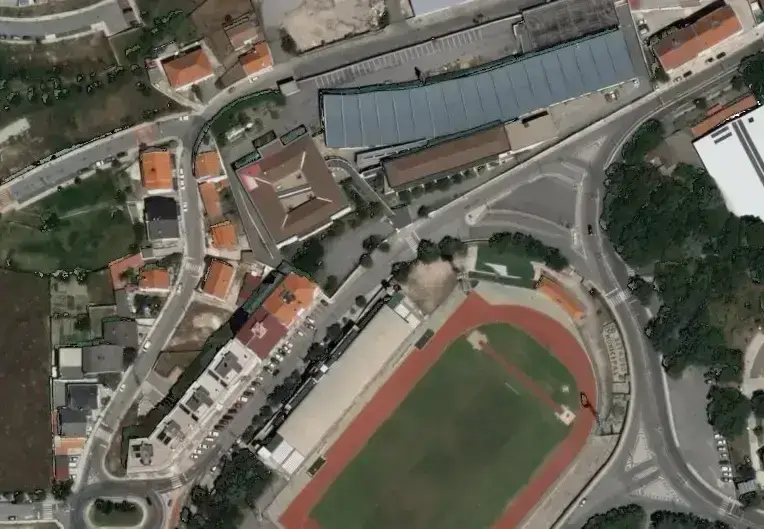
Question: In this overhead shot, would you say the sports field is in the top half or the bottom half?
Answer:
bottom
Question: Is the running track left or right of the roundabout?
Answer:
to its right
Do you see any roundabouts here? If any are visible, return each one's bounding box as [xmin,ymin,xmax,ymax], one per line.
[87,497,146,529]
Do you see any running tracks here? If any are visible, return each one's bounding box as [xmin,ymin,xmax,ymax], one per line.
[270,292,598,529]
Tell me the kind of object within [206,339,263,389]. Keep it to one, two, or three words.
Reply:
building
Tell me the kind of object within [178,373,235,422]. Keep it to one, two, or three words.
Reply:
building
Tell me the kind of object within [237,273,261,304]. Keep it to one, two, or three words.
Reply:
shed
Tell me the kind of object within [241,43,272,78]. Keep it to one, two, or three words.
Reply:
house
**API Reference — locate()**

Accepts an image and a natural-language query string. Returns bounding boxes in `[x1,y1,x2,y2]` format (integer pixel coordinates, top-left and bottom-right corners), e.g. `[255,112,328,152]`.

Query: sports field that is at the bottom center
[301,323,578,529]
